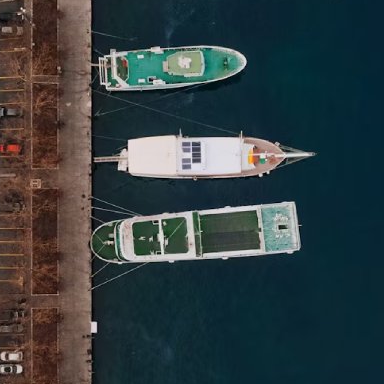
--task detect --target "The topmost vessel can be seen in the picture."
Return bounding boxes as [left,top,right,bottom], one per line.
[90,46,247,92]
